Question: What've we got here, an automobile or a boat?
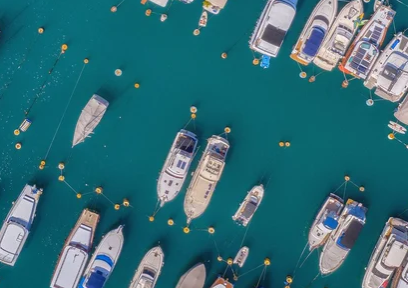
boat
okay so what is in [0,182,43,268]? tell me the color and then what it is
white boat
